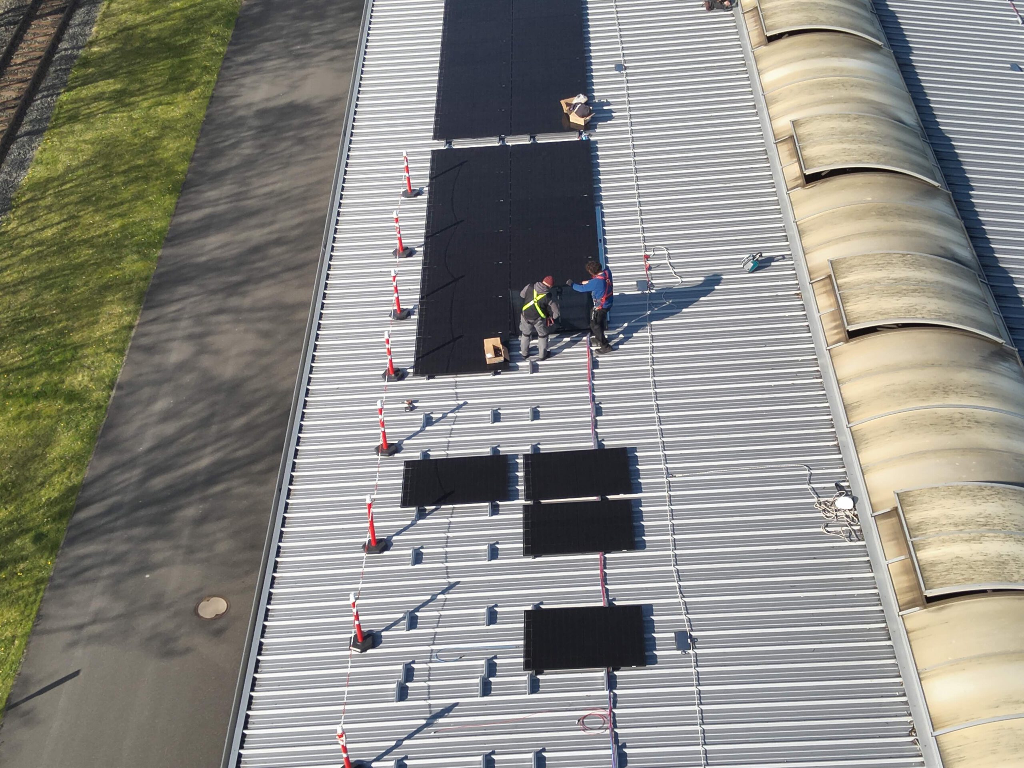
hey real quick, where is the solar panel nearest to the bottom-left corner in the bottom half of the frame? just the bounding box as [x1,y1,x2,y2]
[399,456,506,512]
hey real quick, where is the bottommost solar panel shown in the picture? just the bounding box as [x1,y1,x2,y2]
[524,606,645,671]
